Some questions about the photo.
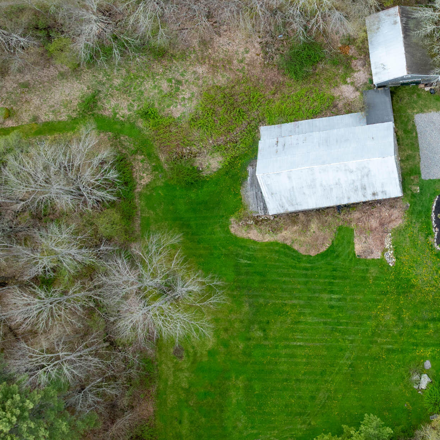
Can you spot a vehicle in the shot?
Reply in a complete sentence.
No, I find no vehicle anywhere in the image.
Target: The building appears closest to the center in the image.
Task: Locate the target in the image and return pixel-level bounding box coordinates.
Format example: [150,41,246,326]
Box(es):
[256,113,402,214]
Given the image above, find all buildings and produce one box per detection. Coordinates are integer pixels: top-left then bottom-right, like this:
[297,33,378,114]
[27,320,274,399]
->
[365,5,440,88]
[256,113,402,214]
